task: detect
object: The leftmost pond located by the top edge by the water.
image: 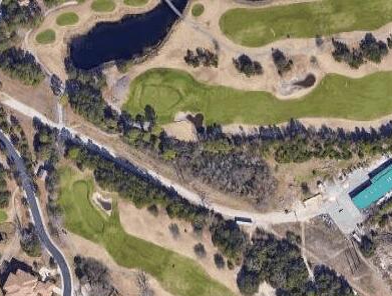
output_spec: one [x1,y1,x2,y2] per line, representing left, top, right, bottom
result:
[70,0,190,69]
